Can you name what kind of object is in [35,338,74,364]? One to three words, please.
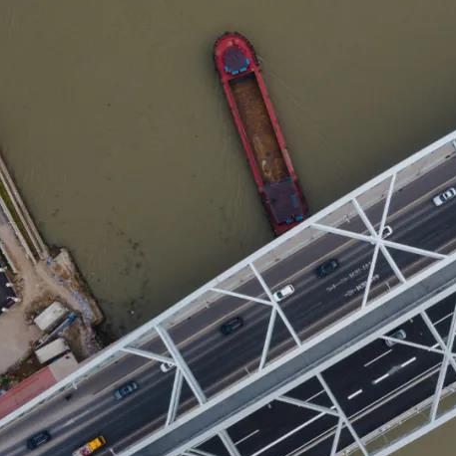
building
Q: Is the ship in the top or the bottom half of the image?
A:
top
